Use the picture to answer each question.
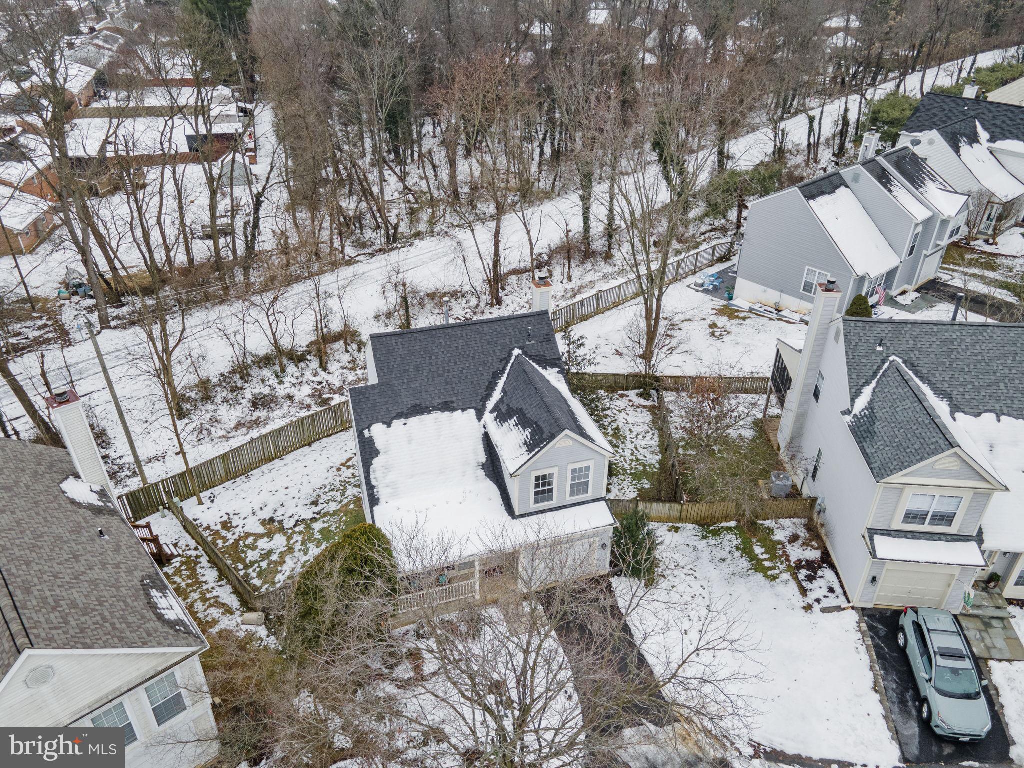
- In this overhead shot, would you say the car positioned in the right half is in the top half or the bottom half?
bottom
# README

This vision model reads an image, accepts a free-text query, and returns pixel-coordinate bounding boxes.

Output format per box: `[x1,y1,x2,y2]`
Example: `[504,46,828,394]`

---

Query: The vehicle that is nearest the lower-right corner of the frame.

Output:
[902,604,1001,754]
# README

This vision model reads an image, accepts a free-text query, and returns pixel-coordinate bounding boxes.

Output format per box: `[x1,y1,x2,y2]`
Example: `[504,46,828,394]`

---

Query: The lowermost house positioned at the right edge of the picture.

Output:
[773,271,1024,614]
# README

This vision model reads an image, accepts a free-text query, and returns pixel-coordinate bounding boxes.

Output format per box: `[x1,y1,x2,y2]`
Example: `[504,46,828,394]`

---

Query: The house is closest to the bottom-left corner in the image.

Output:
[0,382,223,768]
